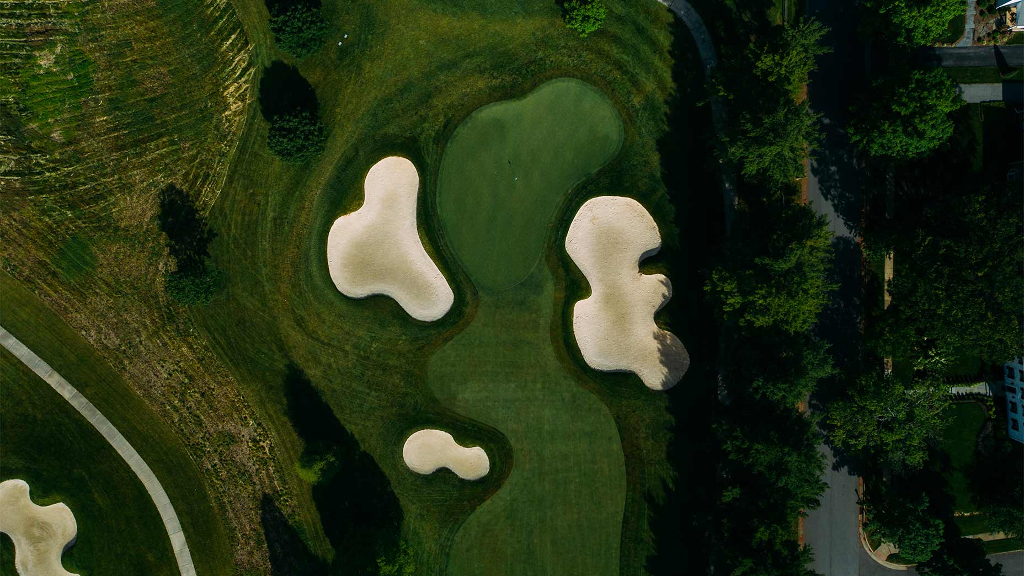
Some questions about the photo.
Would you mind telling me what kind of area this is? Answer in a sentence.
It's a golf course.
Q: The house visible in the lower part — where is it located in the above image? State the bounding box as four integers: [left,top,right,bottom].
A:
[990,360,1024,443]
